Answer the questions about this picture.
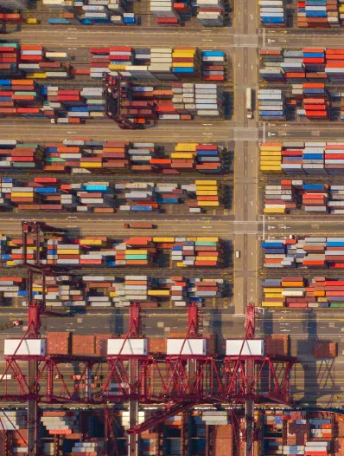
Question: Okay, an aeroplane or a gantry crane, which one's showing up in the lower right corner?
gantry crane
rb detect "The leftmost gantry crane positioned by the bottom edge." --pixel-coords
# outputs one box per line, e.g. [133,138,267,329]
[0,303,109,456]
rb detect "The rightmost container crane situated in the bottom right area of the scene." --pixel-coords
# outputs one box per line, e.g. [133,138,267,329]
[222,303,306,456]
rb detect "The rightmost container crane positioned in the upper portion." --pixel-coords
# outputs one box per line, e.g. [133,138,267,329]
[101,75,141,131]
